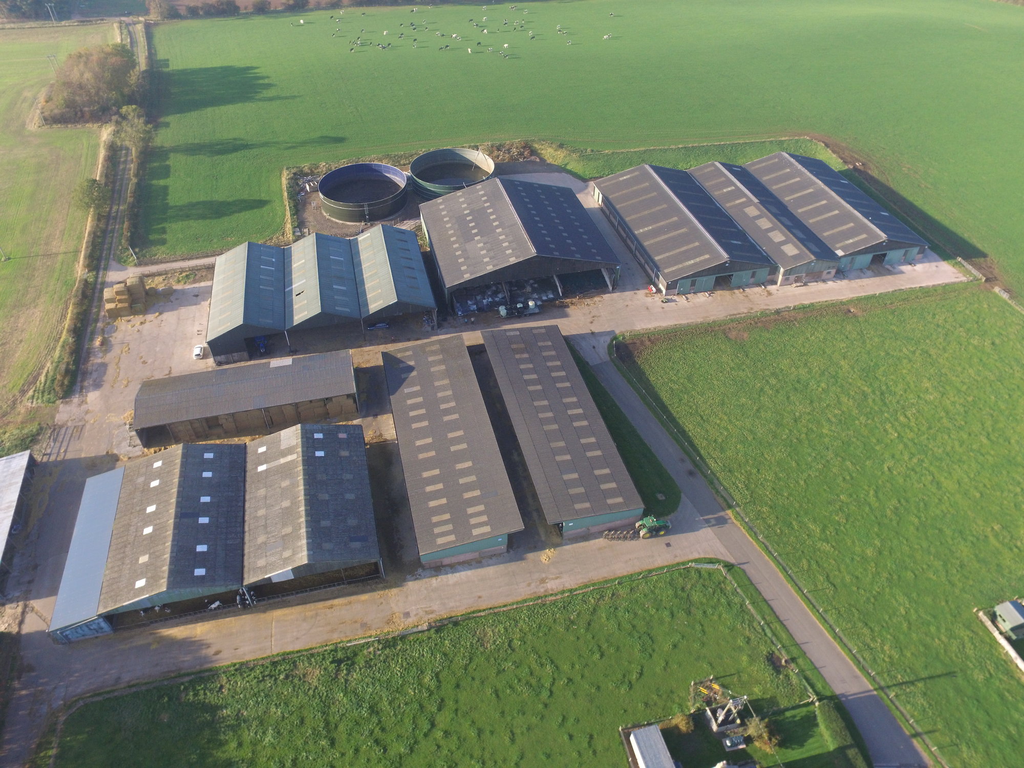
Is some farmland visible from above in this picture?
Yes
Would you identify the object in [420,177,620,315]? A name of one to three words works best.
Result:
shed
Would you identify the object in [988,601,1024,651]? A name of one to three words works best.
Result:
shed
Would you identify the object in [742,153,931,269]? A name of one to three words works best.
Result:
building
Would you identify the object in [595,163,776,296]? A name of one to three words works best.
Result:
building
